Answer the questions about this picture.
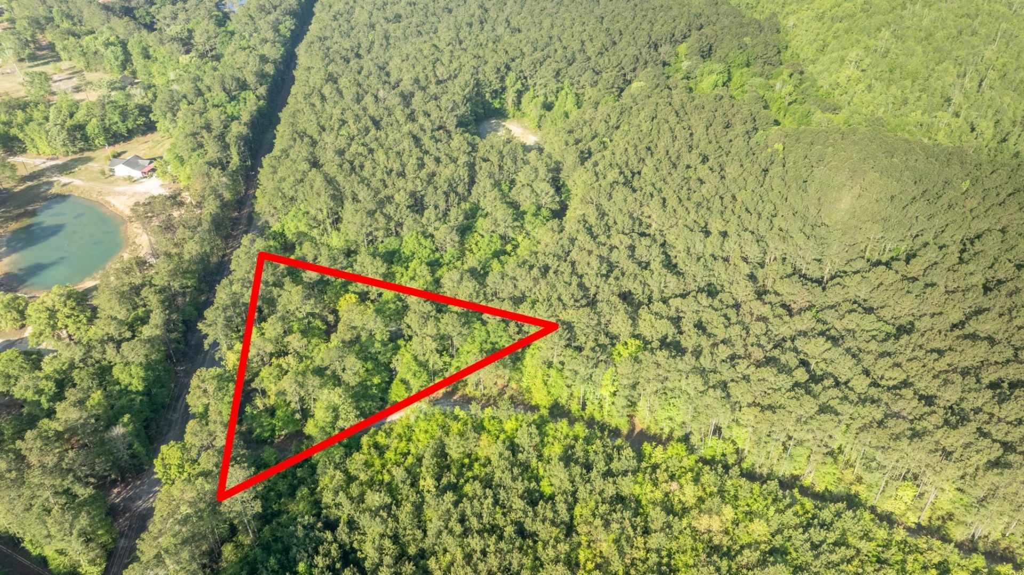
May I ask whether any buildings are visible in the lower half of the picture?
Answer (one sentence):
No, no building is visible in the lower half of the picture.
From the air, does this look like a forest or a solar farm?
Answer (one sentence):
It's a forest.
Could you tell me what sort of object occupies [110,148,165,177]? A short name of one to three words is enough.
house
